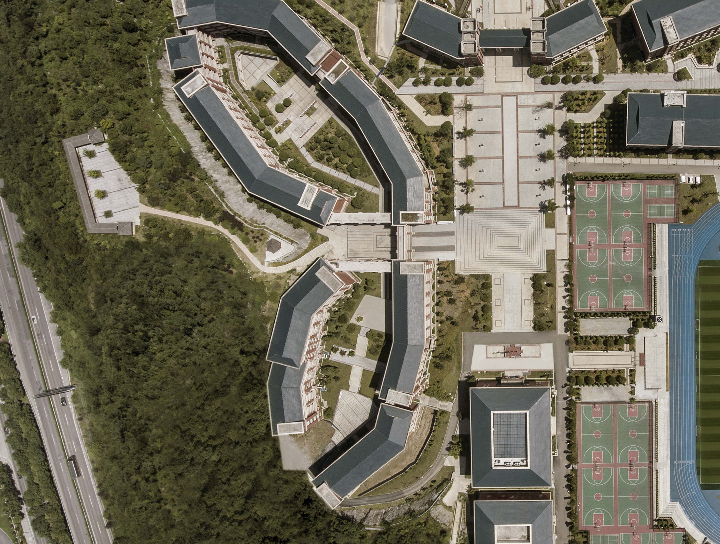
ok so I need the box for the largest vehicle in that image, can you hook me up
[65,455,80,481]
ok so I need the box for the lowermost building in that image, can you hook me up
[473,493,554,544]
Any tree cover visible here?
Yes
